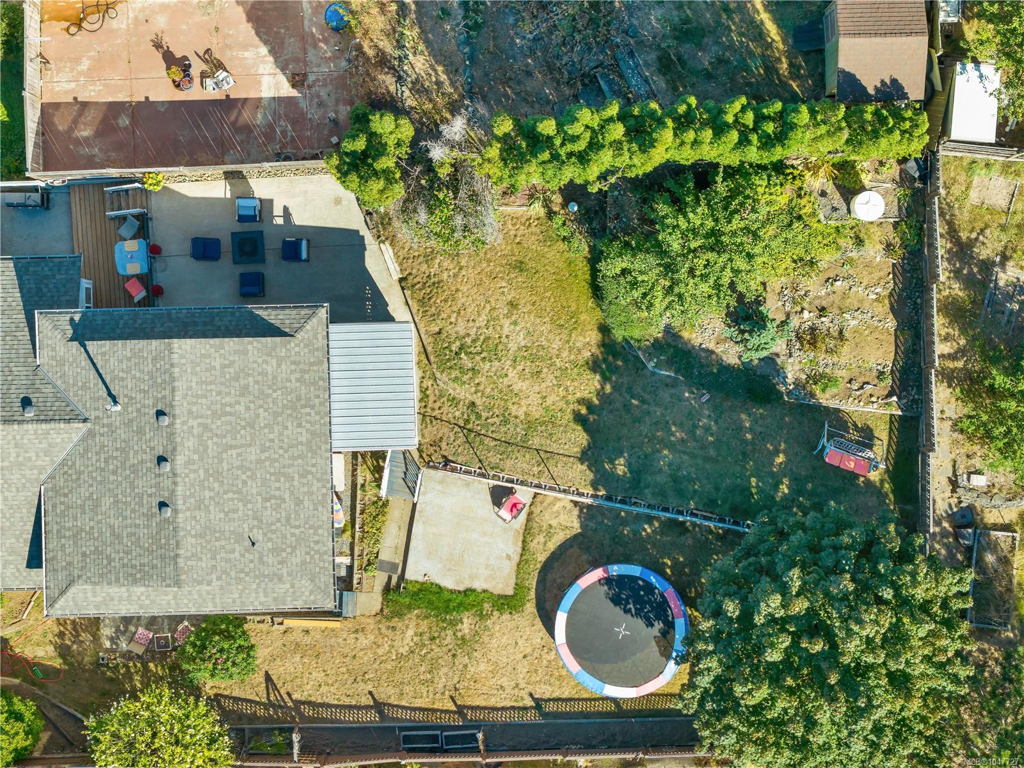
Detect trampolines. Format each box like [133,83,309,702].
[554,561,689,698]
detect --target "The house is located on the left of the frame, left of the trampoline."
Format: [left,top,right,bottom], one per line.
[0,252,340,620]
